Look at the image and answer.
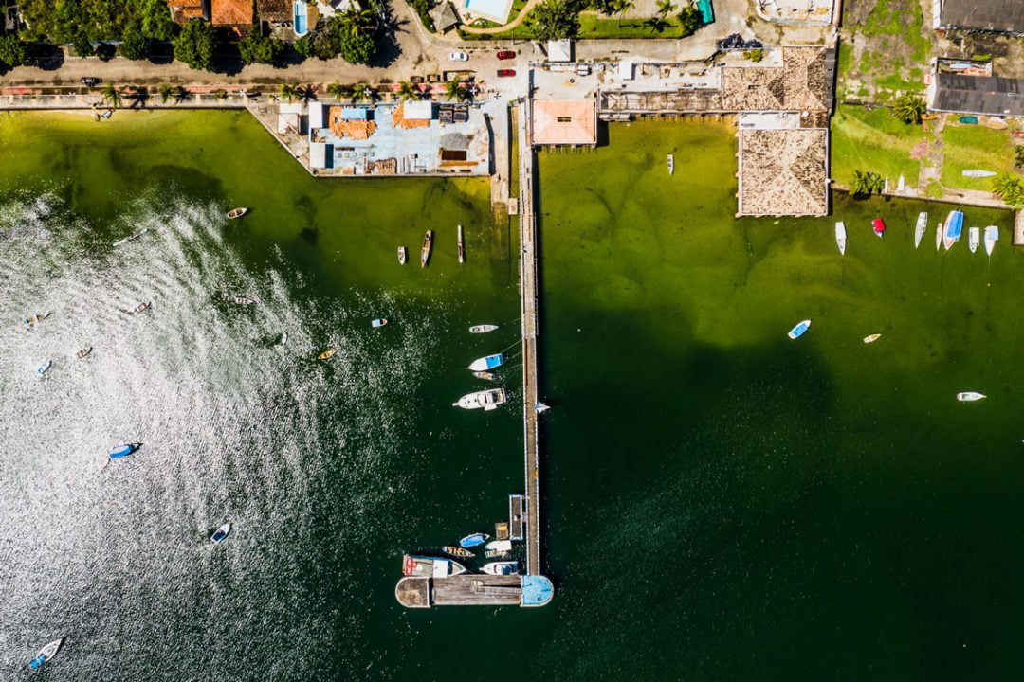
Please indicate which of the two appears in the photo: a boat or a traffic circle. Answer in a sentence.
Visible in the photo is a boat.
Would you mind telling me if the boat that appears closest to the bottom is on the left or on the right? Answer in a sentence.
The boat that appears closest to the bottom sits on the left side.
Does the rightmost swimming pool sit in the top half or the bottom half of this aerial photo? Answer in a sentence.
You can find the rightmost swimming pool in the top half.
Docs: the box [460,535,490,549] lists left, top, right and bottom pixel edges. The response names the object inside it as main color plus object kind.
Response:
blue boat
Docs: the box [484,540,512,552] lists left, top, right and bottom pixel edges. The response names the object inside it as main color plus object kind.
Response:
white boat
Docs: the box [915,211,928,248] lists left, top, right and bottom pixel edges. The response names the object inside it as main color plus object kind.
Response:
white boat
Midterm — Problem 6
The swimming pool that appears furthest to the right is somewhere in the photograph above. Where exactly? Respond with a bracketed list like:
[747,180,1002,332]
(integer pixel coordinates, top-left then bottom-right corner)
[458,0,507,25]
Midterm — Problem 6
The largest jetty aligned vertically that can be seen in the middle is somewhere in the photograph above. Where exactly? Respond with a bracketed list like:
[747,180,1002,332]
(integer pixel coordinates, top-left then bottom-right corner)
[518,101,540,577]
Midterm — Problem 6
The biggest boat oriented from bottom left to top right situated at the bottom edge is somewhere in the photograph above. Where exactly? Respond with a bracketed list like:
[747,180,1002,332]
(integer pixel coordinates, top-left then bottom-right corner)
[25,638,64,672]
